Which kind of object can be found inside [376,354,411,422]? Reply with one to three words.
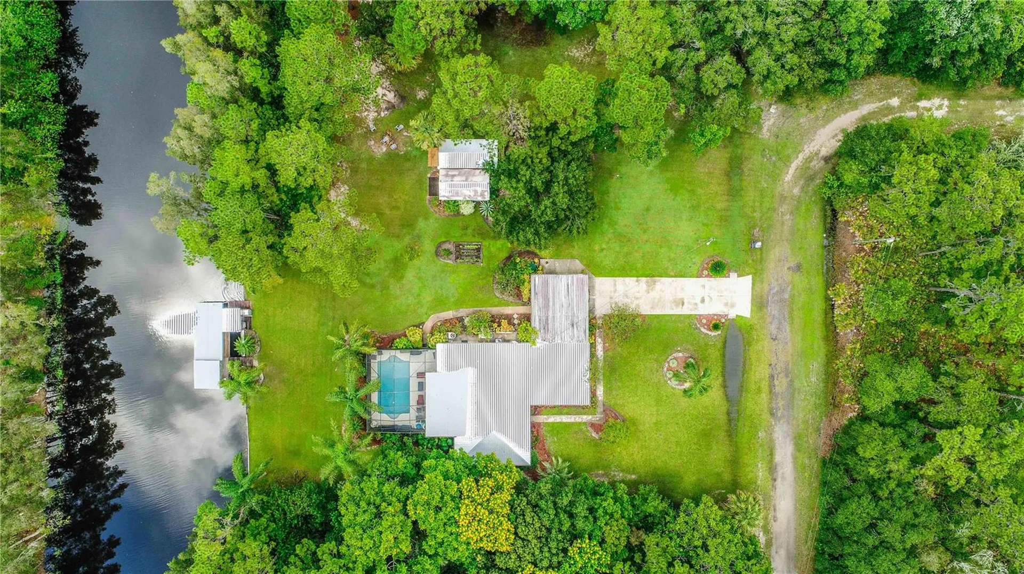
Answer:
swimming pool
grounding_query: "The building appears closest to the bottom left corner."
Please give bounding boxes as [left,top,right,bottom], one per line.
[194,301,247,389]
